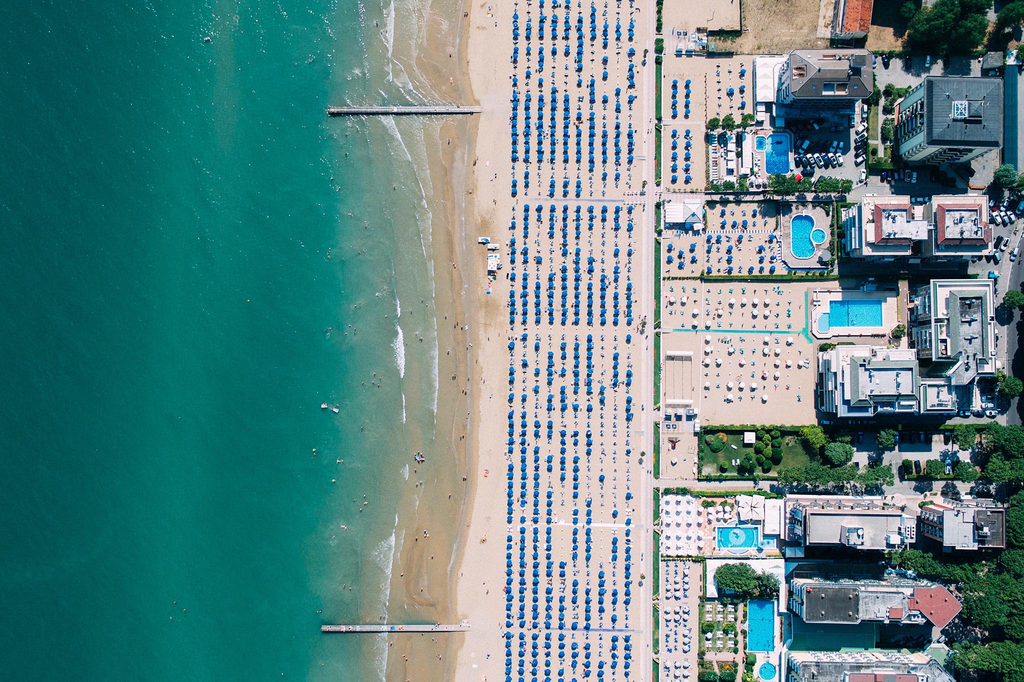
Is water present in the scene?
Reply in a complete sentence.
Yes, the picture does contain water.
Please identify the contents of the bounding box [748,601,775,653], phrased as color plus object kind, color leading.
blue swimming pool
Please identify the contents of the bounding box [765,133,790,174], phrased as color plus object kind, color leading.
blue swimming pool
